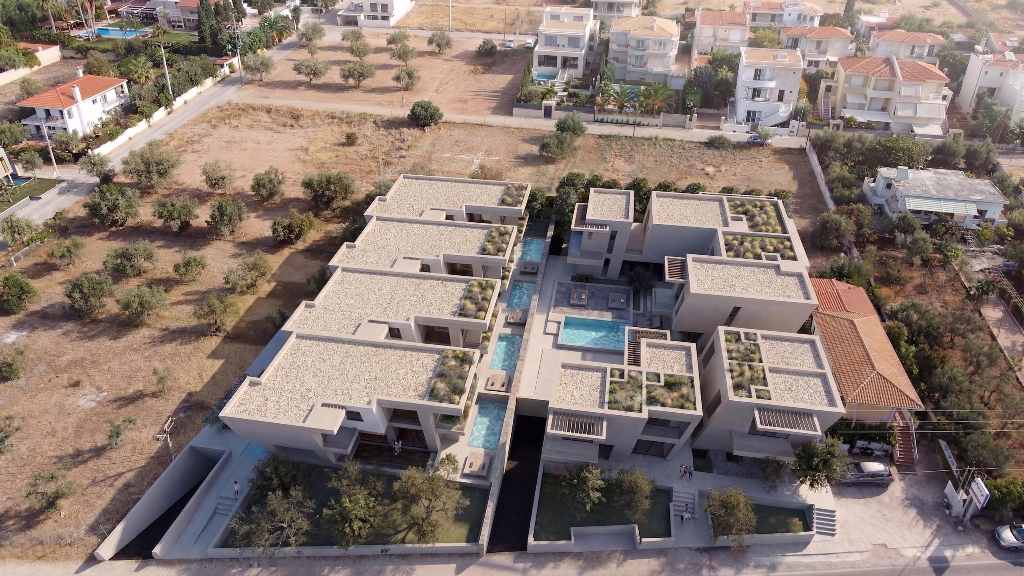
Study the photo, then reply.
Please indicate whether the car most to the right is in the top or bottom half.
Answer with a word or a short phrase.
bottom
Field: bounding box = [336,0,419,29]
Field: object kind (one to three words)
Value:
house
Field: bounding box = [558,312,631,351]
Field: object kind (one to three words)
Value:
swimming pool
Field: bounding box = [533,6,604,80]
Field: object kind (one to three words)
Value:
house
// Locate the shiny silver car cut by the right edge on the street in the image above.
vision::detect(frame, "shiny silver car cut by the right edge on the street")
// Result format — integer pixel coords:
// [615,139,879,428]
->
[999,522,1024,552]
